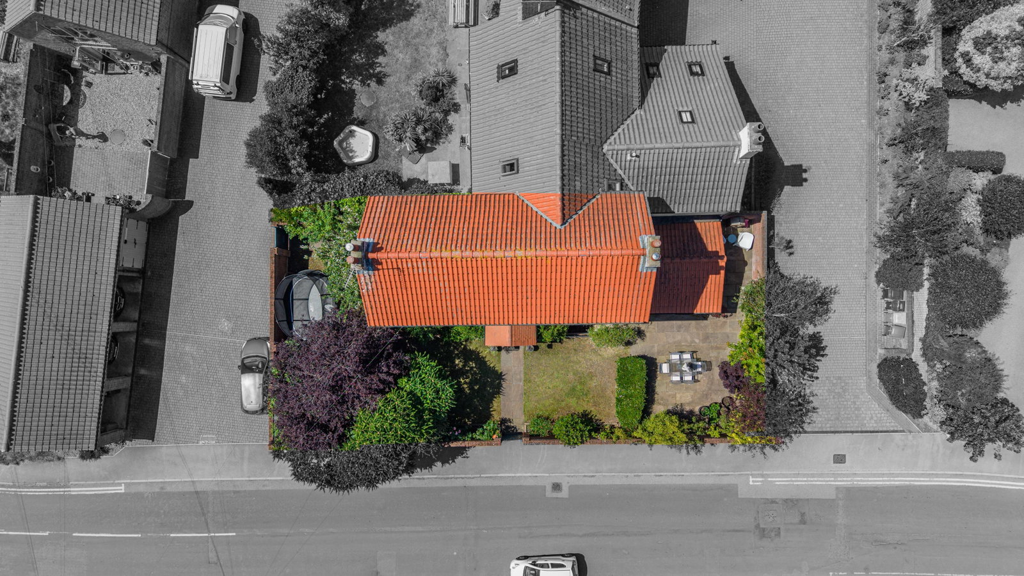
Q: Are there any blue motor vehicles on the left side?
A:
No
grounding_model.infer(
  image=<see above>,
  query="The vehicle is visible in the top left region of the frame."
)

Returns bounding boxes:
[189,7,241,99]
